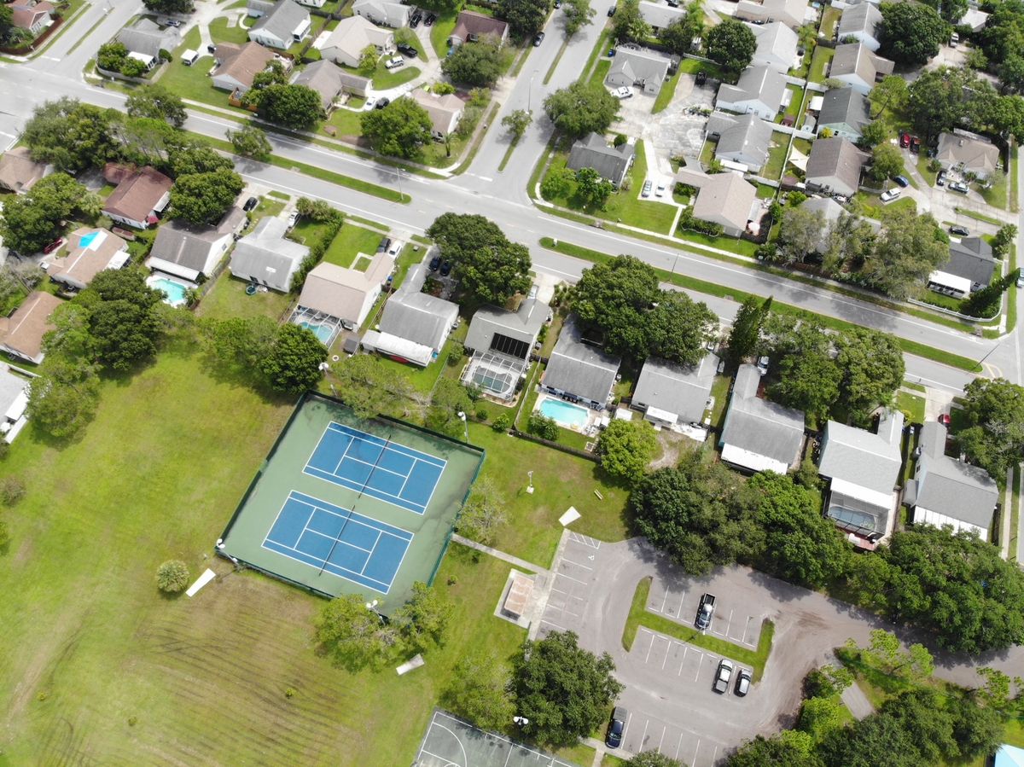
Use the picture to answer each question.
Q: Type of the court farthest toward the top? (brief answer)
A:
tennis court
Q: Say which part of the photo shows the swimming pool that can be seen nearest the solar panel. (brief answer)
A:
center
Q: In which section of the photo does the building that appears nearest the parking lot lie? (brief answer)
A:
bottom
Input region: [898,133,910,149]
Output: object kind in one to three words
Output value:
vehicle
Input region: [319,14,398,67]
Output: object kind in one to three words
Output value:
house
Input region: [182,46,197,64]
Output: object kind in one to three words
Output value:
vehicle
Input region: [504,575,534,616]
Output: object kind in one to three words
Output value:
building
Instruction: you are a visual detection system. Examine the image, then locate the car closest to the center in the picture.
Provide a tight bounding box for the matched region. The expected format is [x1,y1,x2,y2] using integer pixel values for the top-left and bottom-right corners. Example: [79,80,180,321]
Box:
[526,283,540,299]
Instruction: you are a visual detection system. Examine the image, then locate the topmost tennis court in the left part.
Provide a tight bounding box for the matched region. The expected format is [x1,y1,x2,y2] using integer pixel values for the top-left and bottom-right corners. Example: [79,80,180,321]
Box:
[269,397,479,534]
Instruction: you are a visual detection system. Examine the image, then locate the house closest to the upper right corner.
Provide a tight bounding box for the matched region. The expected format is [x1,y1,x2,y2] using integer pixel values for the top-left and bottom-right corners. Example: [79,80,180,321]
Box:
[958,7,978,36]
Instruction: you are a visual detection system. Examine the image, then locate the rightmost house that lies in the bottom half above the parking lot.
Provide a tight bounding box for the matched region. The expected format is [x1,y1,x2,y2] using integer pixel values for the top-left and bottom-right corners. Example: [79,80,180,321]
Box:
[912,419,998,533]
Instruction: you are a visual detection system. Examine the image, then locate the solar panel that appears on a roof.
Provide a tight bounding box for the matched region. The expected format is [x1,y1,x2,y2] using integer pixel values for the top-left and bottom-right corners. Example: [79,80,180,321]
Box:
[488,331,530,361]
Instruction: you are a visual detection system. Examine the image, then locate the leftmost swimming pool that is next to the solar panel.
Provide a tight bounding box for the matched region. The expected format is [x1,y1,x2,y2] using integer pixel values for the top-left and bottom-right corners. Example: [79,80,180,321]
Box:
[462,352,526,402]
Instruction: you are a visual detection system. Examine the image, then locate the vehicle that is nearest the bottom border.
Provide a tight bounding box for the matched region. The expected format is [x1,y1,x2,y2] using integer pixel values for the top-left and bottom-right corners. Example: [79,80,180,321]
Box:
[606,706,626,750]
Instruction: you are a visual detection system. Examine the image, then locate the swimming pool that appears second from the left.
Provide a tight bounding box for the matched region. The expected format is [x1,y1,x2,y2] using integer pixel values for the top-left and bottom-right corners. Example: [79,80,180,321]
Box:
[289,305,340,347]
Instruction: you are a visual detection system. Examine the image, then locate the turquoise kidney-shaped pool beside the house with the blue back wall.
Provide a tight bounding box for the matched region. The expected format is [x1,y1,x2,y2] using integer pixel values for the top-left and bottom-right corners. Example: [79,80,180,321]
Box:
[531,391,615,437]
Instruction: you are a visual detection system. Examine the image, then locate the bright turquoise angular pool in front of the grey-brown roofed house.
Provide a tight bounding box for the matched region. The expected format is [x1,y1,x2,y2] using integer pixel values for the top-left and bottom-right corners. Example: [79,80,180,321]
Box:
[151,270,198,307]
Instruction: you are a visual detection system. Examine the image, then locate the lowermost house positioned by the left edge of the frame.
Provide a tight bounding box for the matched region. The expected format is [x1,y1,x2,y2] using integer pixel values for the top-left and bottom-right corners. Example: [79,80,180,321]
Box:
[0,372,43,440]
